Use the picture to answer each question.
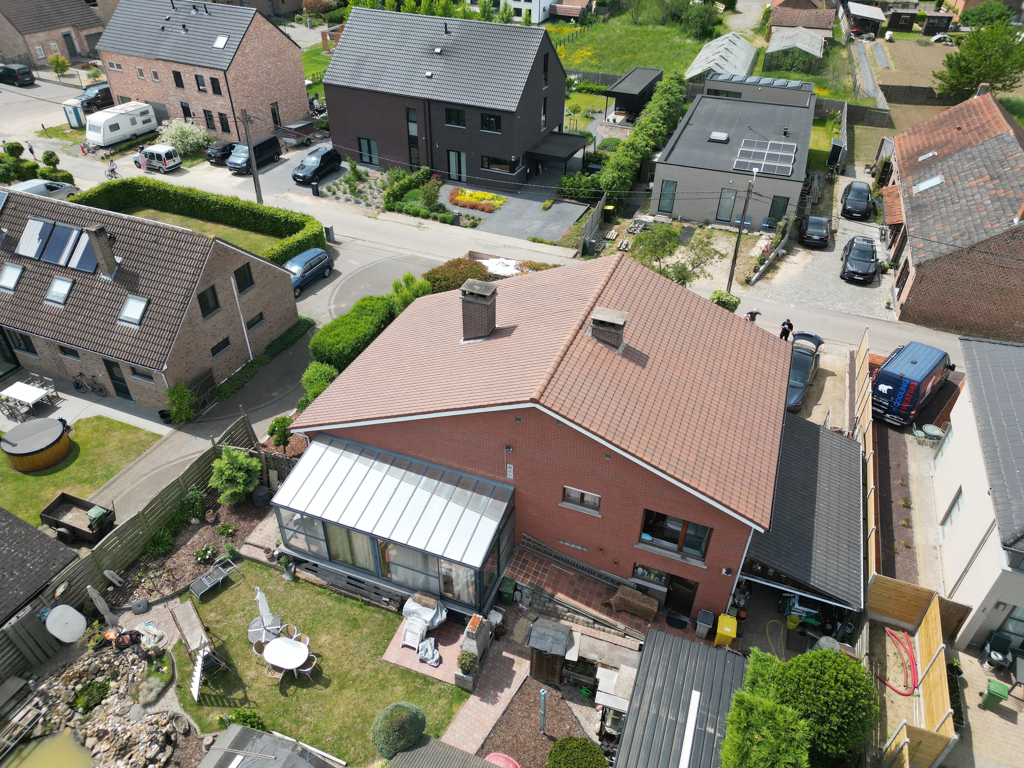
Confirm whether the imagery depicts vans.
Yes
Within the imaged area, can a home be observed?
Yes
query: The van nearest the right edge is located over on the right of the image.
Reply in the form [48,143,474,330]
[873,327,959,419]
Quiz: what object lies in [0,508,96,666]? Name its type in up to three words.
shed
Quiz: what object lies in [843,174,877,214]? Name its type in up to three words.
car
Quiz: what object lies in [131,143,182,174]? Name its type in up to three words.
car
